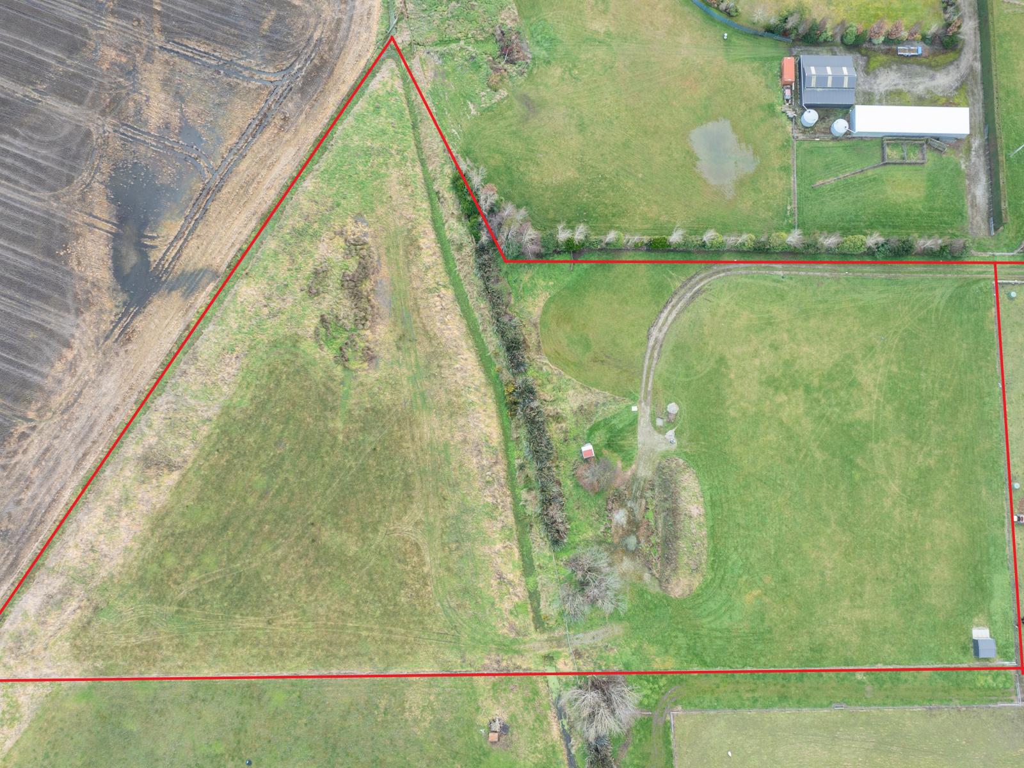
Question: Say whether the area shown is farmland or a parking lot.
farmland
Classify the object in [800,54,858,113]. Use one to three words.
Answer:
shed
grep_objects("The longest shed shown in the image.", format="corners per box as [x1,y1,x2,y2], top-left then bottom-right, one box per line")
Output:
[845,104,971,137]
